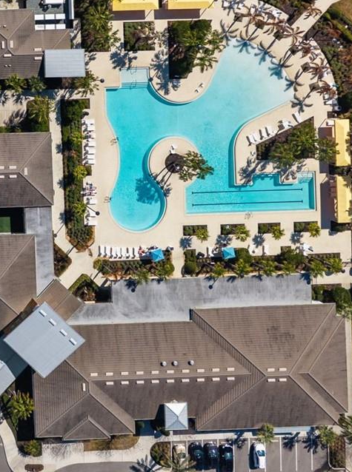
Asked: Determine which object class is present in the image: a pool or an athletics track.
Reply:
pool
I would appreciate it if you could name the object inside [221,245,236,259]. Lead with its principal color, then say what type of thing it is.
blue umbrella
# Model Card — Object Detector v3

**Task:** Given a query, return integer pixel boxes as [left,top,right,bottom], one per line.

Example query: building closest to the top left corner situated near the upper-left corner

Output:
[0,9,85,80]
